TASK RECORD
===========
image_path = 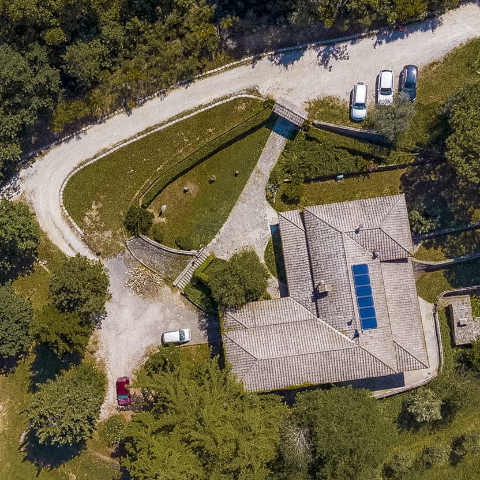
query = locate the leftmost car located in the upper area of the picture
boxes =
[348,82,366,123]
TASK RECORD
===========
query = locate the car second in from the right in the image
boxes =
[375,69,394,107]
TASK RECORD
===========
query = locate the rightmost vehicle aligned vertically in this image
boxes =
[398,64,417,104]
